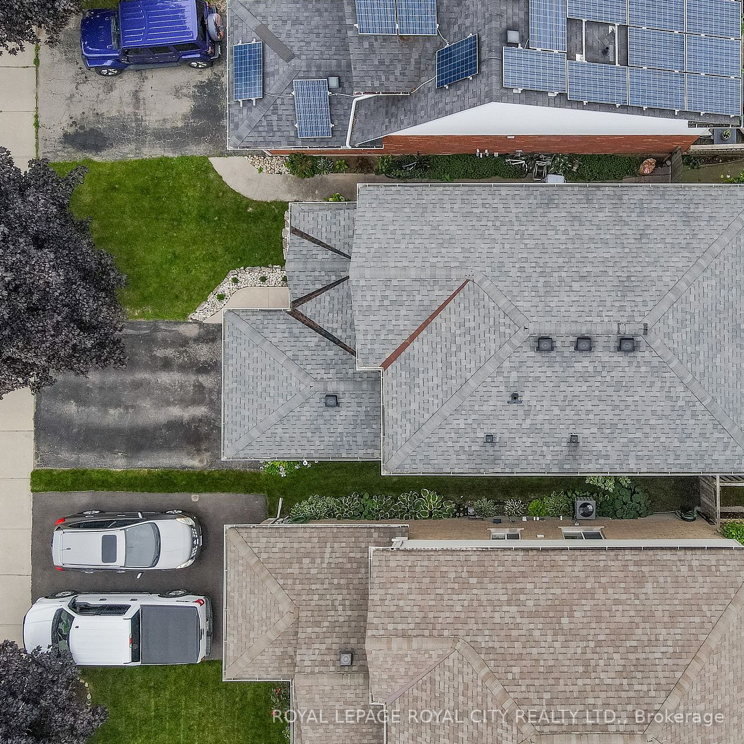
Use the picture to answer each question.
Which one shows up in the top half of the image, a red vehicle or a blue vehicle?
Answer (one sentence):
The one visible in the top half of the image is a blue vehicle.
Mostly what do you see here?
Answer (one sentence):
For the most part, this view shows buildings.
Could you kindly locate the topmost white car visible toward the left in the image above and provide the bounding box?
[47,508,204,581]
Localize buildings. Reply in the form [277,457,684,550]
[227,0,743,158]
[222,184,744,476]
[223,519,744,744]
